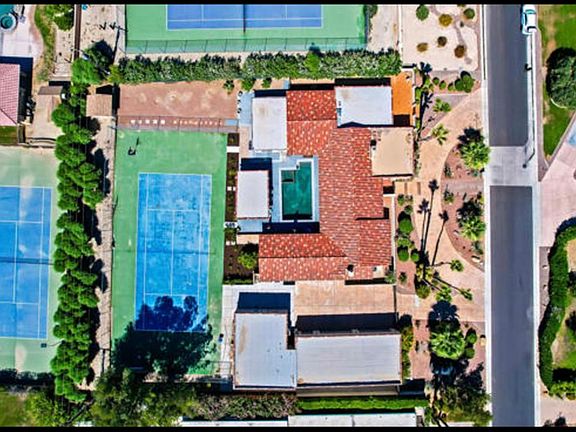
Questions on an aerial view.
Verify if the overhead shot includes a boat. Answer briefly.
No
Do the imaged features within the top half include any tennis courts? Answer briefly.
Yes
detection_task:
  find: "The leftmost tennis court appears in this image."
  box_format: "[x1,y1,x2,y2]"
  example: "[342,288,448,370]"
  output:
[0,148,62,376]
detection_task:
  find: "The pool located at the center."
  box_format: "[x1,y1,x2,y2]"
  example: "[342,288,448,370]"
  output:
[280,160,314,221]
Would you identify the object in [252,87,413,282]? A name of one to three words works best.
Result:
house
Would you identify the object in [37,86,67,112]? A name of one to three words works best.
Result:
shed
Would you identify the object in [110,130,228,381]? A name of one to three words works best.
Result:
tennis court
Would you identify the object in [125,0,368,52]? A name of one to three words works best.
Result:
tennis court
